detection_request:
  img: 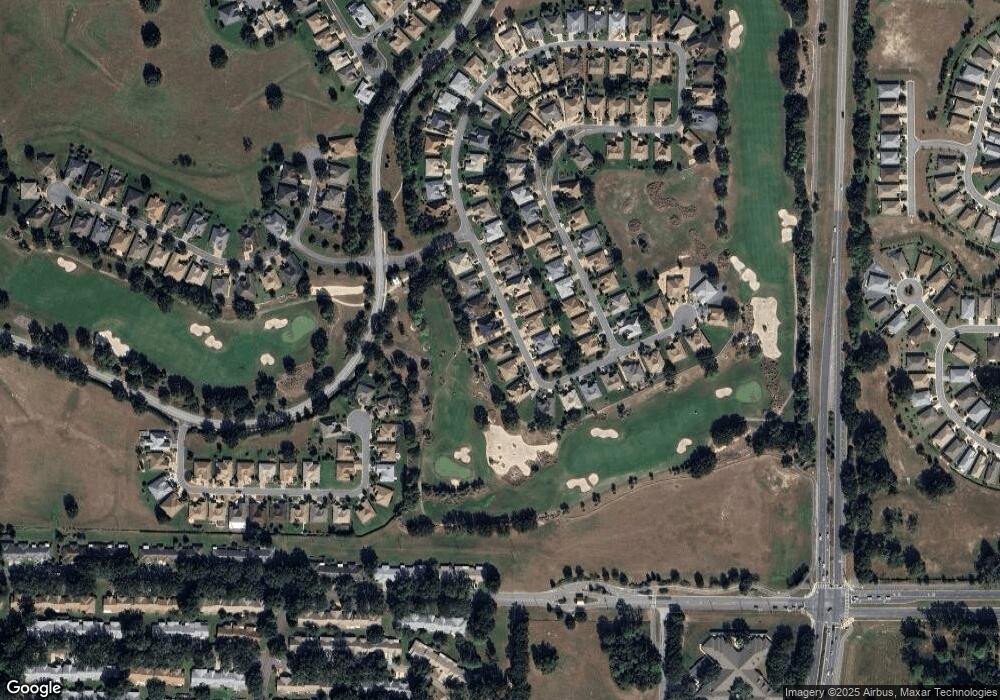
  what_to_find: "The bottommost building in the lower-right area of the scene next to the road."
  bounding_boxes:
[692,630,778,700]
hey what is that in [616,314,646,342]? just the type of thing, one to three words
house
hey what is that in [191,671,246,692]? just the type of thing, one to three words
building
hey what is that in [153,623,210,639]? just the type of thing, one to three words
building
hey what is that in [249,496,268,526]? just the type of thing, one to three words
house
